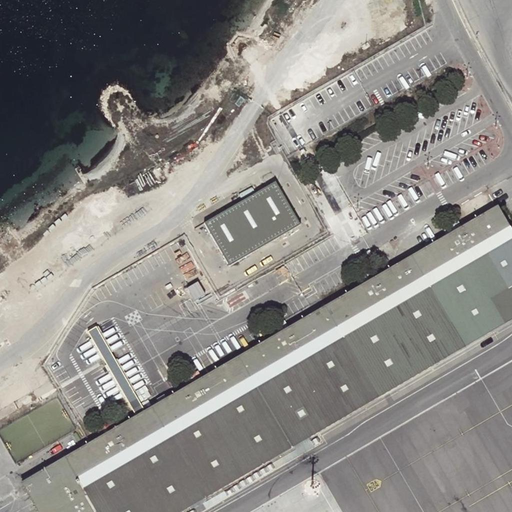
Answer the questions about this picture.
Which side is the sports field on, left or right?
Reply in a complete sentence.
The sports field is on the left side of the image.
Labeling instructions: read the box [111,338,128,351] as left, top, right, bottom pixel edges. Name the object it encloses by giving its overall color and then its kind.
white vehicle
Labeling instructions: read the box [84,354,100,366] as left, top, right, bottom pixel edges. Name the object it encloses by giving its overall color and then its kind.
white vehicle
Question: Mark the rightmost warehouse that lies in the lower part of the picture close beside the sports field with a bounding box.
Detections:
[66,204,512,512]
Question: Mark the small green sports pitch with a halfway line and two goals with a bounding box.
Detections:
[0,398,76,462]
